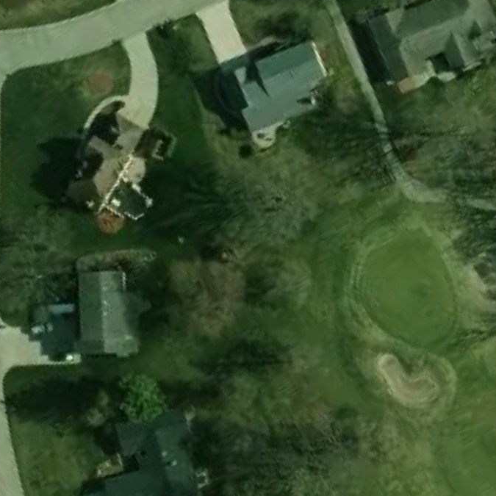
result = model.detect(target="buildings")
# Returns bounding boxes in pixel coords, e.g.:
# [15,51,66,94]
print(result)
[78,269,130,354]
[65,114,147,206]
[369,0,496,78]
[104,411,202,496]
[234,40,338,134]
